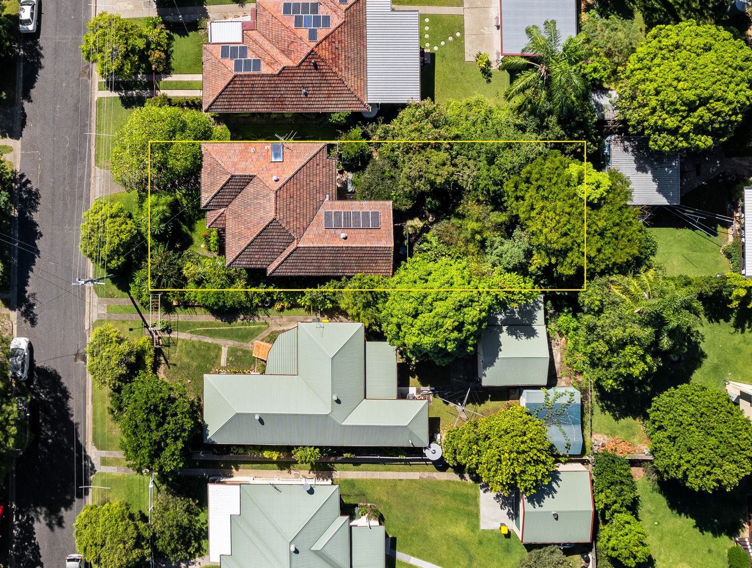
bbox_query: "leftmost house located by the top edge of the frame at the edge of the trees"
[201,0,421,113]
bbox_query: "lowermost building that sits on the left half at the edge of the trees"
[207,475,386,568]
